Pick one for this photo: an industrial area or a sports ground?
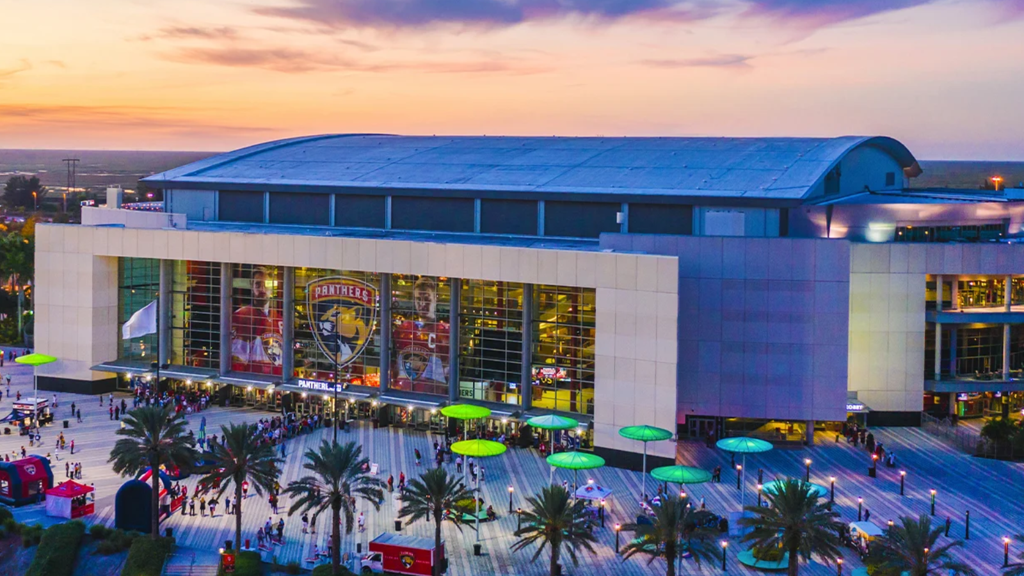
sports ground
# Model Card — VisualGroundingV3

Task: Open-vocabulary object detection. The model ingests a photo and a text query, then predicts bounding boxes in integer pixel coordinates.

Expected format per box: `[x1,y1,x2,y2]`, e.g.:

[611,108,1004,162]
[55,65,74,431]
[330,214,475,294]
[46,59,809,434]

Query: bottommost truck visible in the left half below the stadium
[359,530,448,576]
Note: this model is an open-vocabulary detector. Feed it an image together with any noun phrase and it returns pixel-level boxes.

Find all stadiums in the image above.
[35,133,1024,474]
